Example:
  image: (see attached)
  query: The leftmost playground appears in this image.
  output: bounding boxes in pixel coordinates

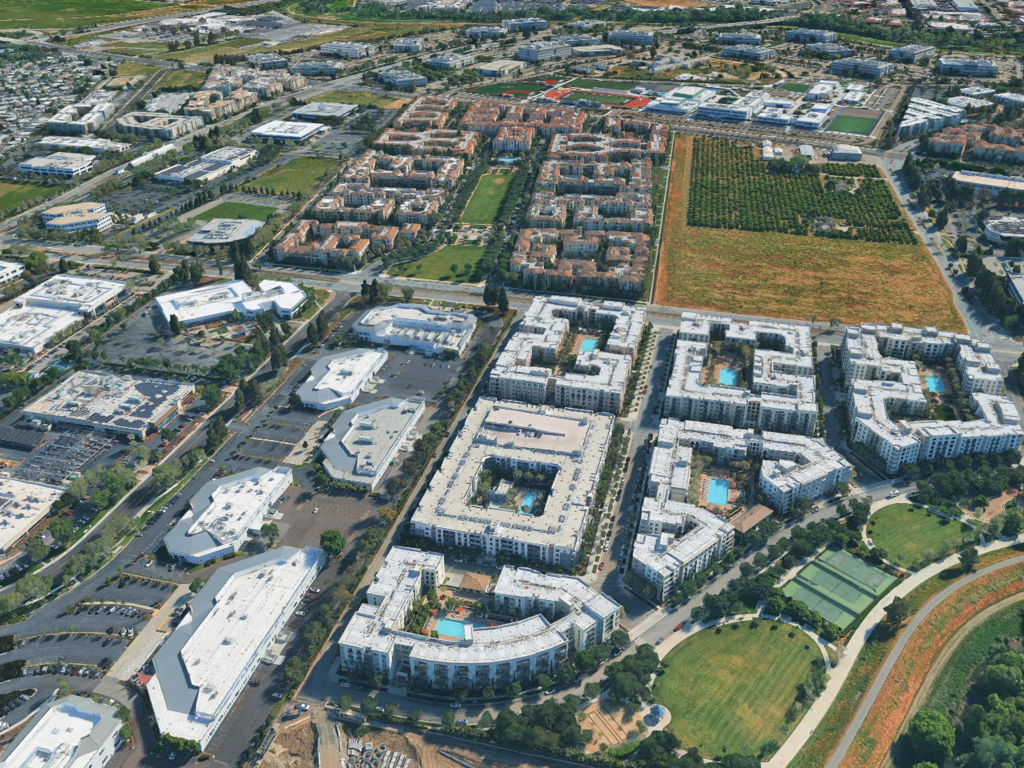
[576,701,644,753]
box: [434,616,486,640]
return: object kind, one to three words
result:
swimming pool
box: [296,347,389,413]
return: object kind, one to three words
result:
building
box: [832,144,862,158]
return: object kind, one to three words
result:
barn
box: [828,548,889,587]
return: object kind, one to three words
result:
tennis court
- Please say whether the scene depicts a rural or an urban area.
urban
